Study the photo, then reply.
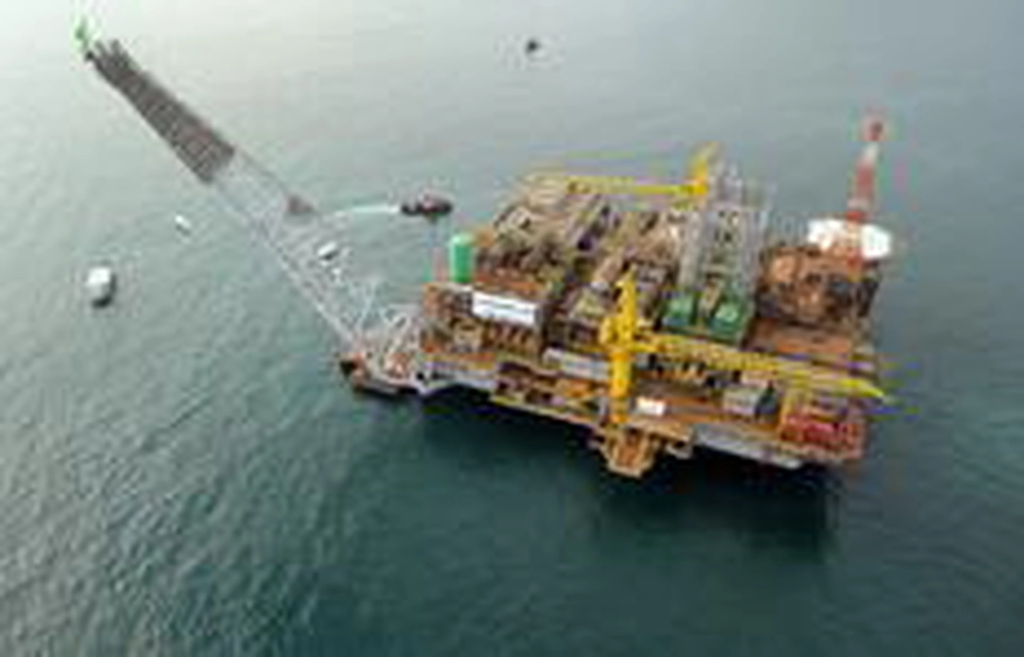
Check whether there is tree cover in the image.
No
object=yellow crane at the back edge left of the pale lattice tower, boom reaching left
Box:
[537,139,726,242]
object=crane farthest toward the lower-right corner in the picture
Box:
[593,267,887,429]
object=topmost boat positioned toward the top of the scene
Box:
[522,35,543,47]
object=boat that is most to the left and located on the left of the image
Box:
[84,265,124,298]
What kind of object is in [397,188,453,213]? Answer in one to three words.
boat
